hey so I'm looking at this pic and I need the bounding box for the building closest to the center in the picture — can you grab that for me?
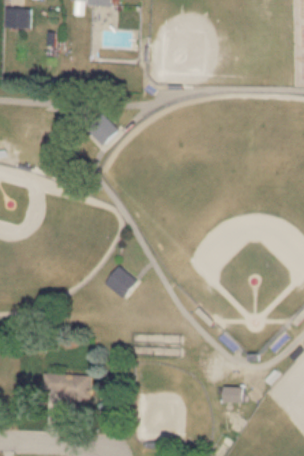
[104,264,138,298]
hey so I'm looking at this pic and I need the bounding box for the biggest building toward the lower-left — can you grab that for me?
[43,374,94,402]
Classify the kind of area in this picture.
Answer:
sports ground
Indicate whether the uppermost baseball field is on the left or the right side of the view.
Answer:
right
